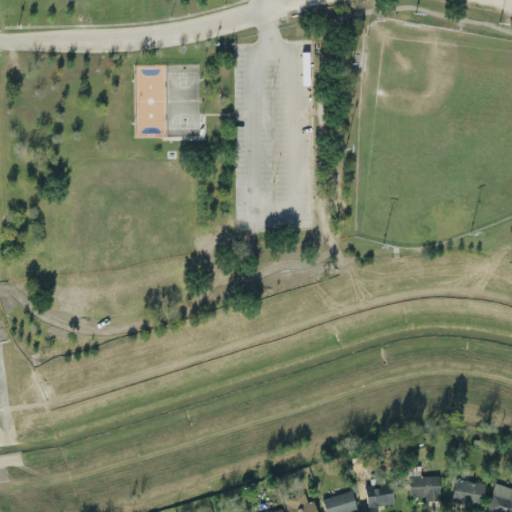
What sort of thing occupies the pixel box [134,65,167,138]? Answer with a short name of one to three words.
sports court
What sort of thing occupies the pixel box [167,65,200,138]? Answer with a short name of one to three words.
basketball court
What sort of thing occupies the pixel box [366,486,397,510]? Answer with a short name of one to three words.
house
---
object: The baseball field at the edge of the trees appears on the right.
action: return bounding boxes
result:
[358,24,512,245]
